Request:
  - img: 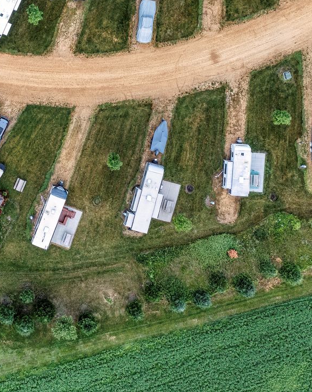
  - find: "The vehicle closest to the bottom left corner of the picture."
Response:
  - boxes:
[30,181,67,249]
